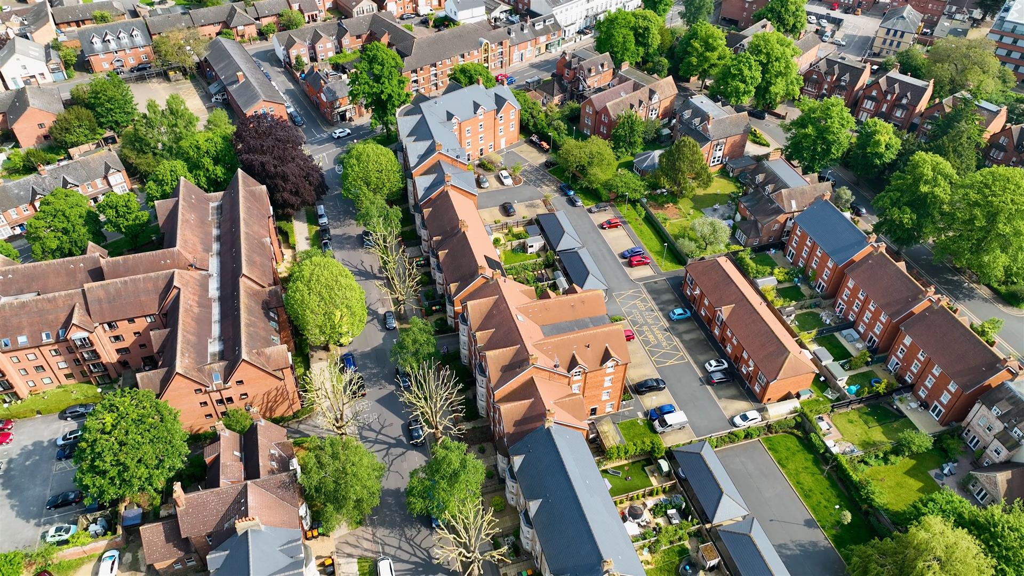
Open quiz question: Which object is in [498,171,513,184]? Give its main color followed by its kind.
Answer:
white vehicle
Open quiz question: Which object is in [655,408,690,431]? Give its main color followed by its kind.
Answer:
white vehicle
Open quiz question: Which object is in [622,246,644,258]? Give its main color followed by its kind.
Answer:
blue vehicle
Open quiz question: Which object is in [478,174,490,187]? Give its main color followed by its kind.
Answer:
gray vehicle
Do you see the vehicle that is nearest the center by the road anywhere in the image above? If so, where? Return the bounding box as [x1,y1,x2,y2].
[503,204,517,217]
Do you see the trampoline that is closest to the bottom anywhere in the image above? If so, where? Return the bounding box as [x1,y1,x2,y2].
[676,552,704,576]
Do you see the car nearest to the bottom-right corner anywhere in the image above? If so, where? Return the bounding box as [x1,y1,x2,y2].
[732,410,762,428]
